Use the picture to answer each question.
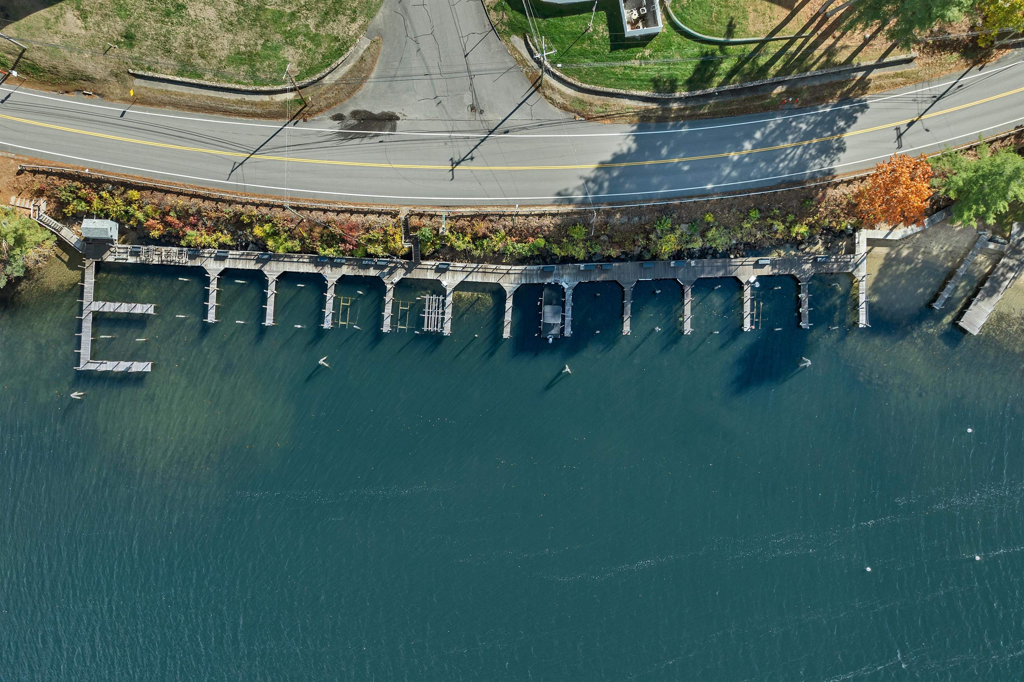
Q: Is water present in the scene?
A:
Yes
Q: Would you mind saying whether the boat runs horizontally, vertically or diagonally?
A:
vertically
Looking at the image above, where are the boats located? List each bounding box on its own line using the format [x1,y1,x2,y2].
[541,284,561,344]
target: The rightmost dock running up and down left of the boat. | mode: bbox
[499,283,523,338]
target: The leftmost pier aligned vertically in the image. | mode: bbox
[72,260,104,369]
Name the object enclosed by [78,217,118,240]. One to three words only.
shed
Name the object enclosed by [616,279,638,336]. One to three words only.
pier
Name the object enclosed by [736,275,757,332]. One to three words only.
pier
